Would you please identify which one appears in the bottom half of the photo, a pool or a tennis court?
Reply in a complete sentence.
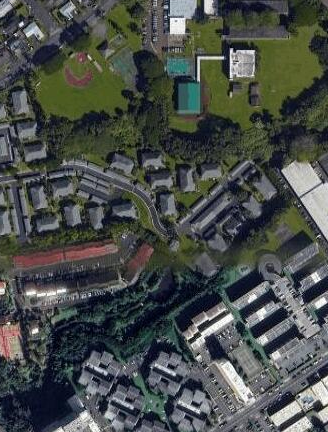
It is a tennis court that can be seen in the bottom half of the photo.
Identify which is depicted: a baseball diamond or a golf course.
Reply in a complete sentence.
It is a baseball diamond that can be seen here.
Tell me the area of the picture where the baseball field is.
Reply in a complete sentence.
Look in the top left portion of the view to spot the baseball field.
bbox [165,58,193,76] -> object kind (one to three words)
tennis court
